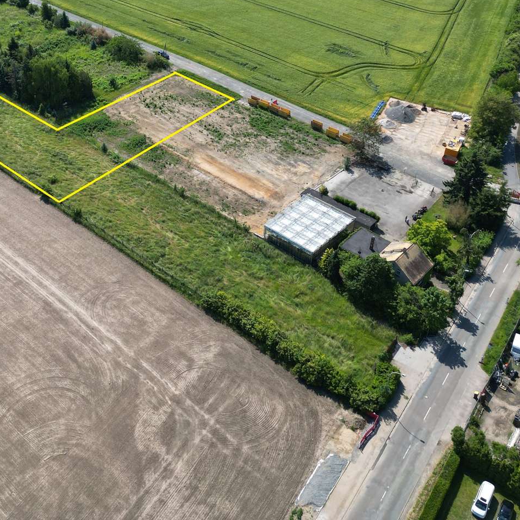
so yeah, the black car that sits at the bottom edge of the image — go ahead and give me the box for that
[493,496,516,520]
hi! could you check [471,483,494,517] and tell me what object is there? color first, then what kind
white car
